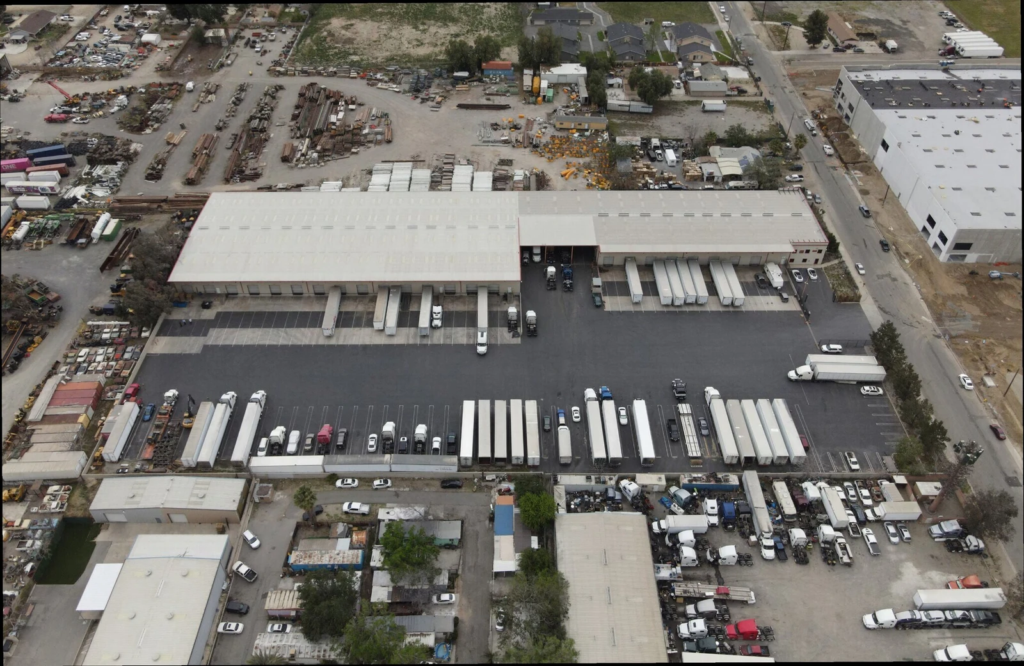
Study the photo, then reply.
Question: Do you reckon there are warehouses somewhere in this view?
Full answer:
Yes, the photo shows a warehouse.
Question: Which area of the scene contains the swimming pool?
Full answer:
You can find the swimming pool in the bottom area of the picture.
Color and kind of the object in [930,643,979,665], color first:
white truck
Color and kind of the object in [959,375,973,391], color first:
white car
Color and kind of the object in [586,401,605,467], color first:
white trailer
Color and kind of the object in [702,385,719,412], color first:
white vehicle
